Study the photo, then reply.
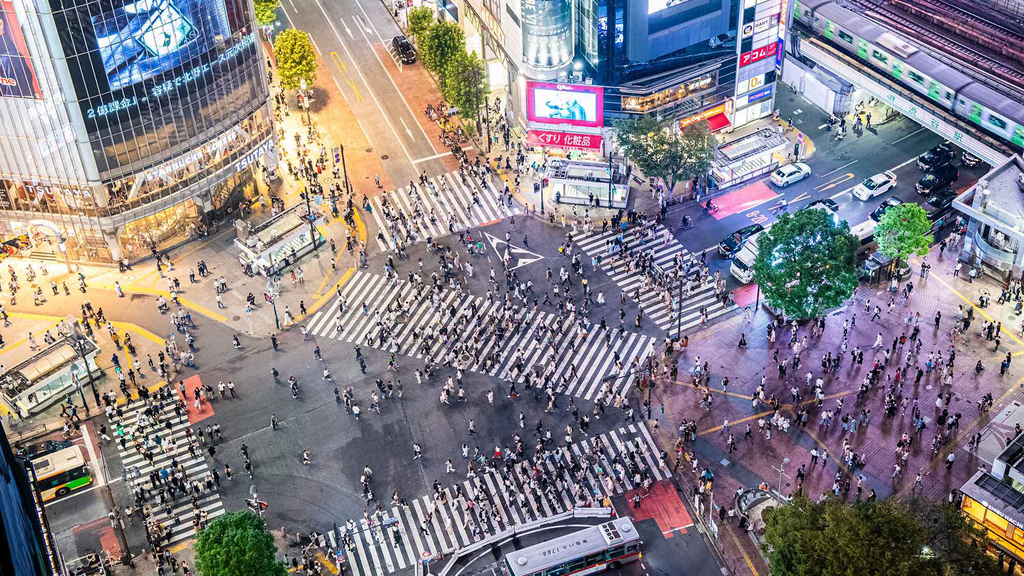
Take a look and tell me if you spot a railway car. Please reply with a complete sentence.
Yes, there's a railway car here.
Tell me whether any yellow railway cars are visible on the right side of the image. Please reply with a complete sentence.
No, looking on the right side of the image, there is no yellow railway car.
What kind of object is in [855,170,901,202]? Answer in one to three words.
car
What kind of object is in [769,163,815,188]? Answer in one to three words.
car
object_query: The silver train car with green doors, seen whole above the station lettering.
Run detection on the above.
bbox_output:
[813,0,977,117]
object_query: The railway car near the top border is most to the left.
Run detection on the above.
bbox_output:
[787,0,818,31]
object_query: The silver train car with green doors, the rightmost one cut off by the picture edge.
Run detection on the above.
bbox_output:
[954,78,1024,162]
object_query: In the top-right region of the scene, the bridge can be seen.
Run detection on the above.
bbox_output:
[783,0,1024,176]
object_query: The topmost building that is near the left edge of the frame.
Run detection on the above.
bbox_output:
[0,0,296,264]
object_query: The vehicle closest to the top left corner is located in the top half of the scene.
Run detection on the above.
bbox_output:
[390,25,416,58]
